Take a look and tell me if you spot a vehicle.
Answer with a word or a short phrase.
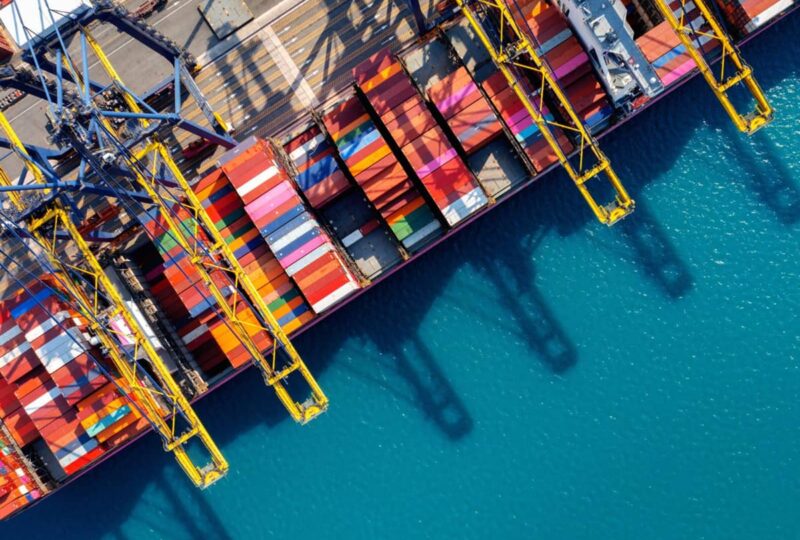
Yes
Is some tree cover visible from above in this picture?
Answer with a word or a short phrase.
No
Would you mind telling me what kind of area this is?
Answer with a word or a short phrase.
port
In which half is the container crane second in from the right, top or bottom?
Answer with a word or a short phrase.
top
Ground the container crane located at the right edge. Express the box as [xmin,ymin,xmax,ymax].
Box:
[660,0,780,134]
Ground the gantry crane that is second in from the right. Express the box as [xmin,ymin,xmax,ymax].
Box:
[389,0,639,225]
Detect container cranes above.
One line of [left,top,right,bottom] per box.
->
[0,0,329,427]
[660,0,780,134]
[389,0,639,225]
[0,77,230,492]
